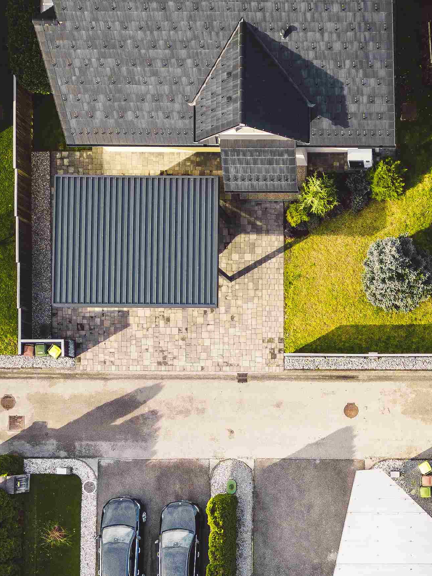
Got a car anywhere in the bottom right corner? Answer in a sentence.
No, I see no car in the bottom right corner.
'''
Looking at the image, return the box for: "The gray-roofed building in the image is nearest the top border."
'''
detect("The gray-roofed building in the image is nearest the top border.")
[13,0,397,203]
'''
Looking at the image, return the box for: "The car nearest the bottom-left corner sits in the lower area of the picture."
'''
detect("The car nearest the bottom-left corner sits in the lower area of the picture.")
[95,496,149,576]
